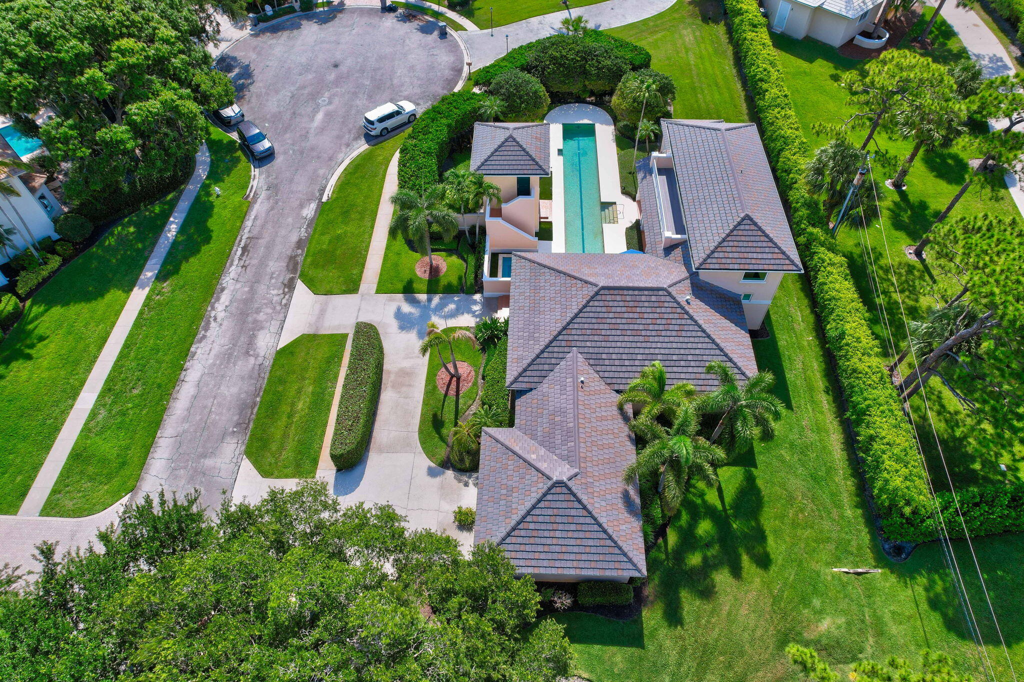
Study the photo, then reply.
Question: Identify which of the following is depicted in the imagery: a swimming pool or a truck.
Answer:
swimming pool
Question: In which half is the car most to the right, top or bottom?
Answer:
top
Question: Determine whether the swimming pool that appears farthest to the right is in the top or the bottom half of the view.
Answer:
top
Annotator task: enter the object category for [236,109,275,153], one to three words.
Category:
car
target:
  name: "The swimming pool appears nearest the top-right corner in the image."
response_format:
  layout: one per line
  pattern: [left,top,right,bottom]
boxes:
[557,123,629,252]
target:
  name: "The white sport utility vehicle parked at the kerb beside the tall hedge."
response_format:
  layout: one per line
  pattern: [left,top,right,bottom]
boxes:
[360,99,420,136]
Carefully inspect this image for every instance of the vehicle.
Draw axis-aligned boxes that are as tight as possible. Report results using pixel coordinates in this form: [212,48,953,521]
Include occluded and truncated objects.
[236,109,275,153]
[360,99,420,136]
[202,83,247,121]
